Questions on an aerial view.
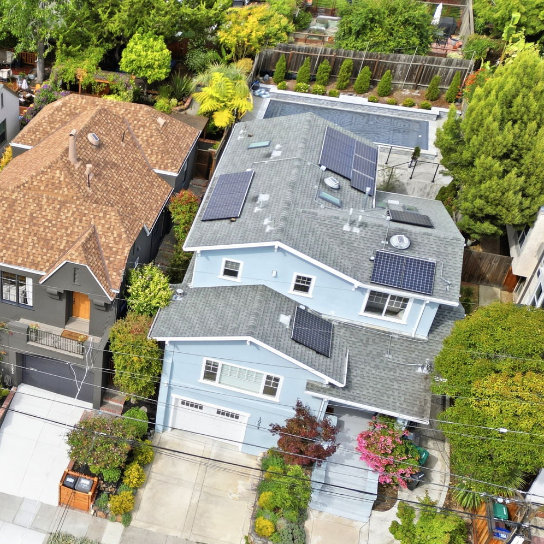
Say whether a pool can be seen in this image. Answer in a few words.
Yes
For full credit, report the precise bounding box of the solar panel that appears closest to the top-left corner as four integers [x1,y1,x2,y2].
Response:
[201,168,255,220]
